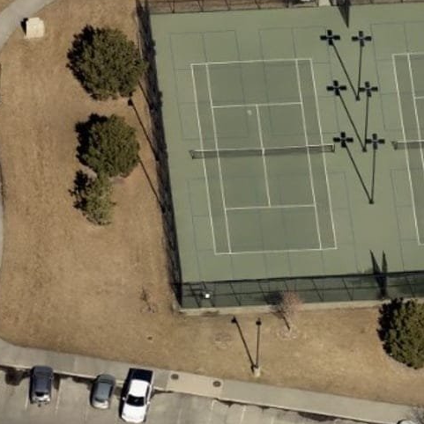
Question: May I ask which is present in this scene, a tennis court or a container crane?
tennis court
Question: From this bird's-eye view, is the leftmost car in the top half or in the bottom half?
bottom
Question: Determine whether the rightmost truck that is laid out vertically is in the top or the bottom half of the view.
bottom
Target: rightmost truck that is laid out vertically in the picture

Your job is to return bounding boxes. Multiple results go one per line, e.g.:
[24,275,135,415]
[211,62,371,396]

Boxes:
[122,368,154,424]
